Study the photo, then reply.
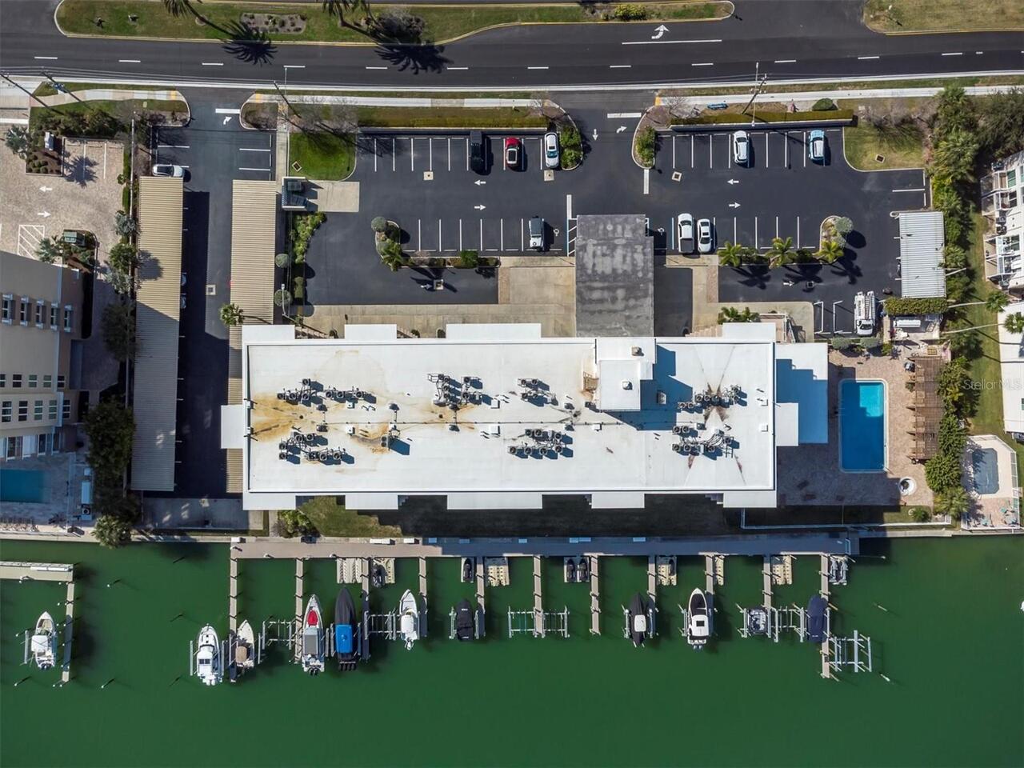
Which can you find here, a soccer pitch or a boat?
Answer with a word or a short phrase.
boat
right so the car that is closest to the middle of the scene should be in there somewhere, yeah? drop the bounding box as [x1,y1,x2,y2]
[529,215,544,249]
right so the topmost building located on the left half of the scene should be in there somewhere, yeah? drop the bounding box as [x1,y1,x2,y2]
[282,177,309,213]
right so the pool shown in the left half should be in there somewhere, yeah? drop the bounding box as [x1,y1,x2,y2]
[0,468,44,503]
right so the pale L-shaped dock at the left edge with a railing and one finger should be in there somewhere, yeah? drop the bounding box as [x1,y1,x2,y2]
[0,562,75,682]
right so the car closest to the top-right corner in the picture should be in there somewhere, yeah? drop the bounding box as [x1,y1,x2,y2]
[808,133,825,163]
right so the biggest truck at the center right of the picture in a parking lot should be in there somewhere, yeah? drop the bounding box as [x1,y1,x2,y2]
[853,289,877,335]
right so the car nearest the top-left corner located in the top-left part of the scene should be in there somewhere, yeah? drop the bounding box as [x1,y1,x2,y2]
[153,163,188,178]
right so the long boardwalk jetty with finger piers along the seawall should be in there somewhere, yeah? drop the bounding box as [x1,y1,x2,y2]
[231,535,859,559]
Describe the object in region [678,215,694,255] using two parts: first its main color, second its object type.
white vehicle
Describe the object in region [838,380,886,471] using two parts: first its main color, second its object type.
blue swimming pool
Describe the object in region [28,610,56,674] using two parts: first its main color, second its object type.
white boat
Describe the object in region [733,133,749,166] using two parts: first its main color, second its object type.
white car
